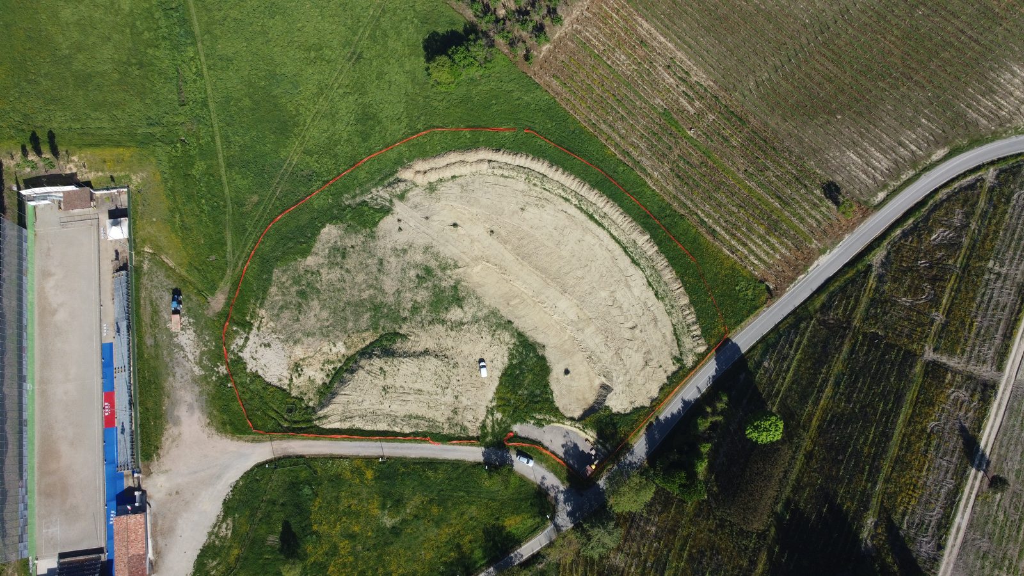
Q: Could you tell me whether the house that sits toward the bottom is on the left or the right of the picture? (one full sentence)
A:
The house that sits toward the bottom appears in the left half of the scene.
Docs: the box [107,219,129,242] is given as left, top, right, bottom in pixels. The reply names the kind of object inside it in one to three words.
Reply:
tent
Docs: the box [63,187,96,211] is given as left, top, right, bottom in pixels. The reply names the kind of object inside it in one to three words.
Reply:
shed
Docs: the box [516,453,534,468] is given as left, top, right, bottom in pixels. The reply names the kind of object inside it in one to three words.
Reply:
car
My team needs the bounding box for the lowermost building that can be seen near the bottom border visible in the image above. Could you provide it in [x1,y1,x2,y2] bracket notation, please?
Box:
[110,510,157,576]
